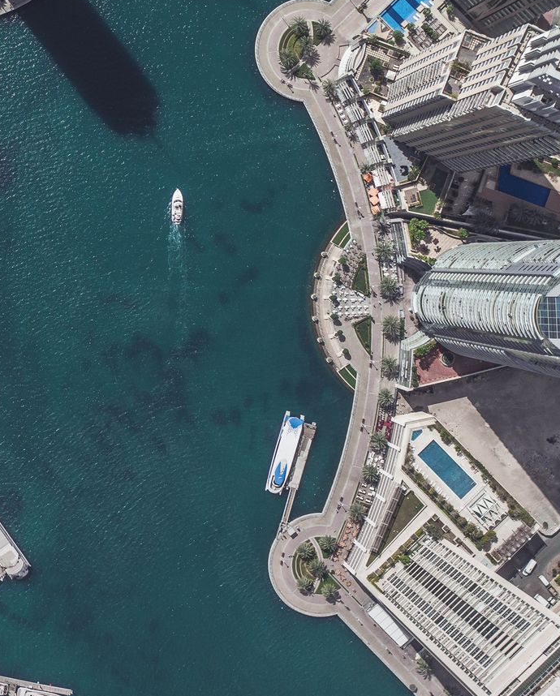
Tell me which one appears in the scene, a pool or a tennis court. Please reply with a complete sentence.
Looking from above, you can make out a pool.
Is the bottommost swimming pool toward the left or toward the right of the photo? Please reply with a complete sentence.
The bottommost swimming pool is on the right side of the image.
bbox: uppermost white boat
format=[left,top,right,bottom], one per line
[171,188,183,225]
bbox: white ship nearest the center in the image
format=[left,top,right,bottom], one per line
[267,410,305,496]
